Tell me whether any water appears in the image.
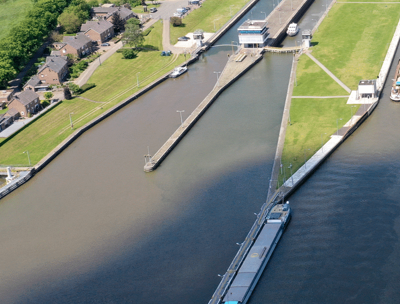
Yes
